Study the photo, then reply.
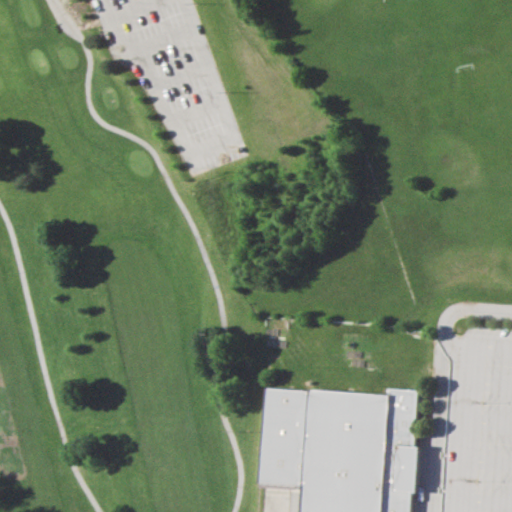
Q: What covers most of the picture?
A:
grass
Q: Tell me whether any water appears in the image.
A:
No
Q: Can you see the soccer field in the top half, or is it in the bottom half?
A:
top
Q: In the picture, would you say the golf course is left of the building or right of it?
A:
to its left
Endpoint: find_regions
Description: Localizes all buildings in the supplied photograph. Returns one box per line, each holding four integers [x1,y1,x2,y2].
[260,388,418,512]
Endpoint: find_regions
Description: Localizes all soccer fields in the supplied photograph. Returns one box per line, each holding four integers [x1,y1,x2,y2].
[411,0,505,77]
